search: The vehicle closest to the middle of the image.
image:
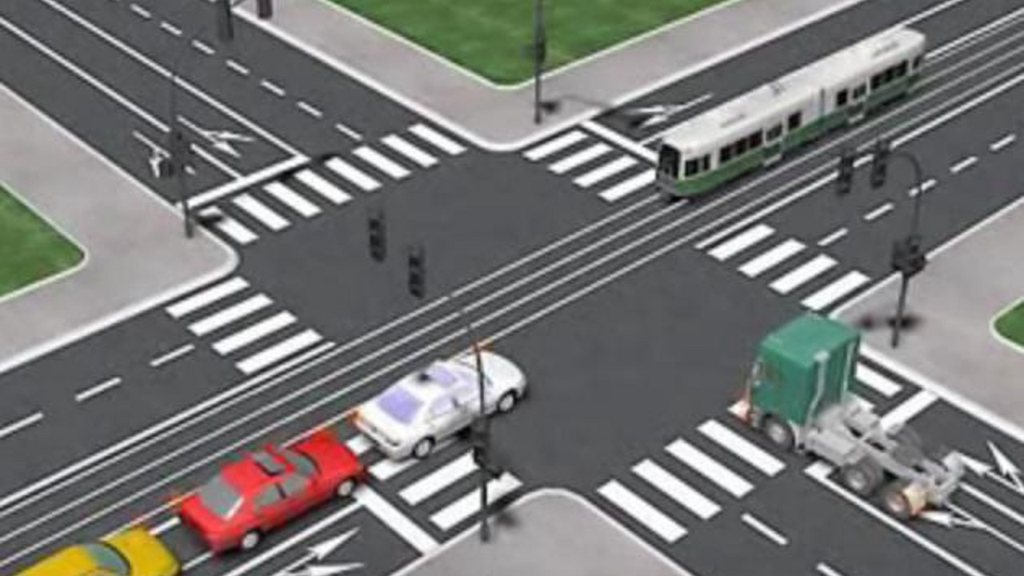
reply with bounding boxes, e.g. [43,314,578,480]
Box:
[354,355,526,461]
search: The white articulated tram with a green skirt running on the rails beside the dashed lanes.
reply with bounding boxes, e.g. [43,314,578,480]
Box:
[653,30,922,198]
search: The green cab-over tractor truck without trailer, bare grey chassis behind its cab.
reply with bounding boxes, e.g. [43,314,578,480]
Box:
[748,317,976,523]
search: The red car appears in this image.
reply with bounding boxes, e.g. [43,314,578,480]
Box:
[178,433,366,554]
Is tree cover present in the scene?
No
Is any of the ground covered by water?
No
